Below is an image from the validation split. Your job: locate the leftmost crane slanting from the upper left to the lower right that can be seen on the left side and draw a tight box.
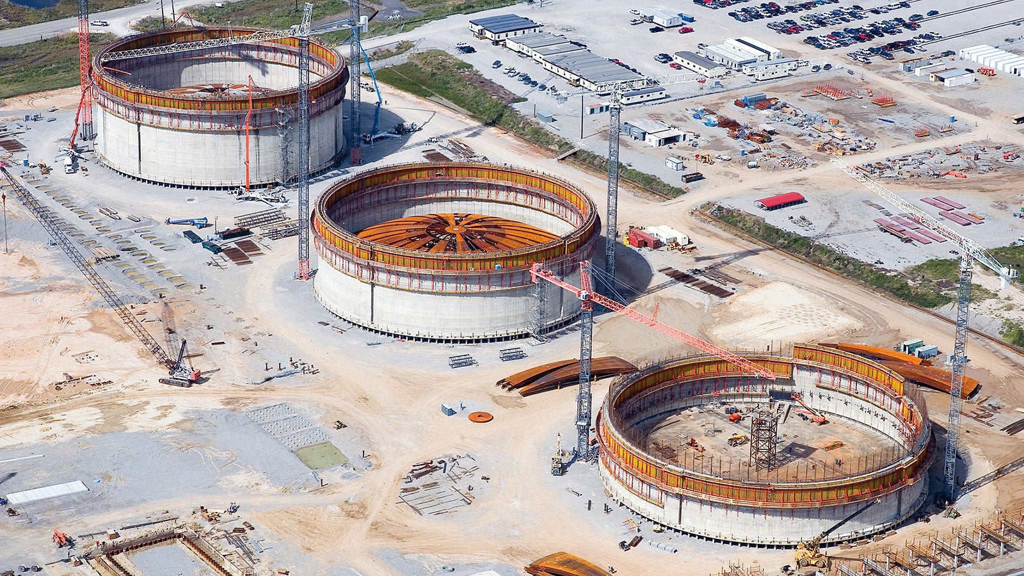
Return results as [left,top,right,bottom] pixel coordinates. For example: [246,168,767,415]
[0,151,205,383]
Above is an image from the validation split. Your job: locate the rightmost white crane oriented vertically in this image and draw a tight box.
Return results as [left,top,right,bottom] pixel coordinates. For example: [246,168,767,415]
[829,159,1020,505]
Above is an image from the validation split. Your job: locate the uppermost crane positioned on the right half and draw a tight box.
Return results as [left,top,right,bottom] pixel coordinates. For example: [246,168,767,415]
[554,57,826,296]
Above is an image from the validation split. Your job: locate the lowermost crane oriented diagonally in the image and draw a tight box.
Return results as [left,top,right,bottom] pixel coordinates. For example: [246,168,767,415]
[793,500,880,570]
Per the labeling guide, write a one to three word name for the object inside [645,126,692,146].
building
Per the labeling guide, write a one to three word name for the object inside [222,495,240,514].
work vehicle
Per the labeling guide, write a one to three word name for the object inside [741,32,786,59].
shed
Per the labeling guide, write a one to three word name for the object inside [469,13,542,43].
trailer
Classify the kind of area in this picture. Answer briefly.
industrial area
